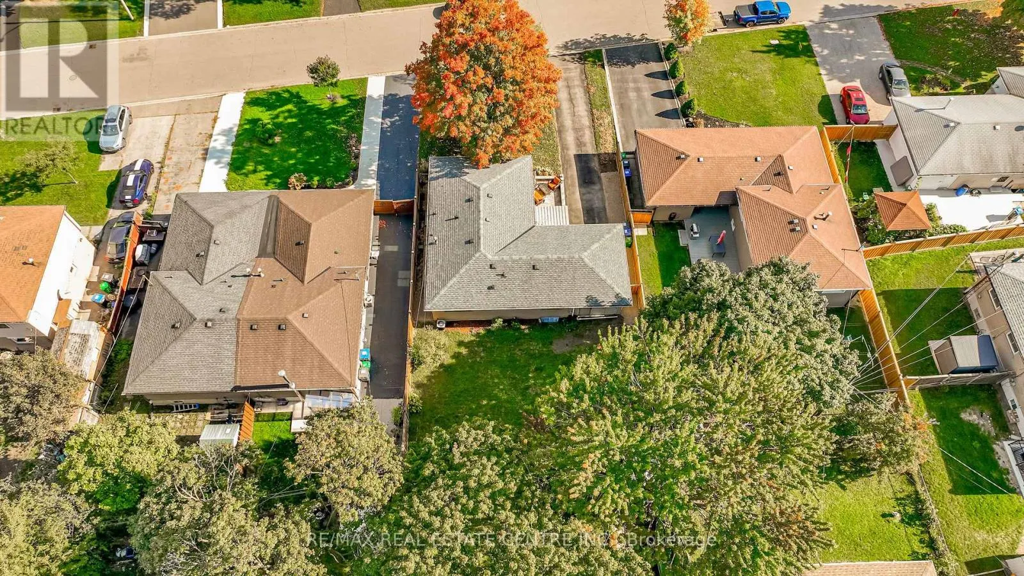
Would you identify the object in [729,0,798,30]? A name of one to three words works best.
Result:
truck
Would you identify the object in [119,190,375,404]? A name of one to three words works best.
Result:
house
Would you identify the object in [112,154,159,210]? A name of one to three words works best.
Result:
car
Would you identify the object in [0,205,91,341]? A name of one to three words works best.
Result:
house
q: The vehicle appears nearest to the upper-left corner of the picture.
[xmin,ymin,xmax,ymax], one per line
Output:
[92,97,133,154]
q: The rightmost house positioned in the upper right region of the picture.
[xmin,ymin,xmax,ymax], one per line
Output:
[885,66,1024,192]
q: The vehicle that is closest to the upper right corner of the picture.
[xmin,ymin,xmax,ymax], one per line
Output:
[875,58,915,109]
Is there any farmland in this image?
No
